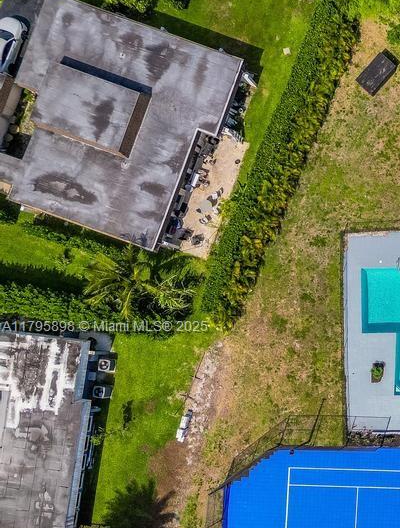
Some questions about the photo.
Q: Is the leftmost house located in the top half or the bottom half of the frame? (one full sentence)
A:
Seen from above, the leftmost house lies in the bottom half of the view.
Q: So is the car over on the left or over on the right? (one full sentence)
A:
It is on the left.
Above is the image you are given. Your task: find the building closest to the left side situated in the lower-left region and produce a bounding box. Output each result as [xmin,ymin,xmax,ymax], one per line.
[0,334,99,528]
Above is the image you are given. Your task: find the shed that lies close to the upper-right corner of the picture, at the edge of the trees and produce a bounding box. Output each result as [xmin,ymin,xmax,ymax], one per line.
[357,53,396,97]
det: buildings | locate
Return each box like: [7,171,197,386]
[357,53,396,97]
[0,334,99,528]
[0,0,245,251]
